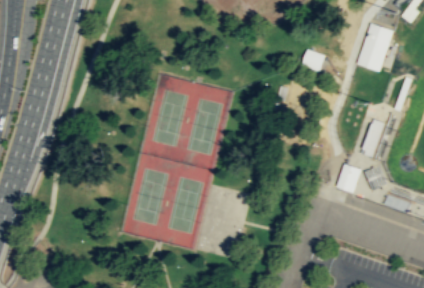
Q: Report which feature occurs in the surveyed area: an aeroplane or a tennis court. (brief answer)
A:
tennis court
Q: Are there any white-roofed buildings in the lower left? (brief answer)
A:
No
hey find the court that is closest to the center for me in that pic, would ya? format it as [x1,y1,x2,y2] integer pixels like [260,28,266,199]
[188,98,224,155]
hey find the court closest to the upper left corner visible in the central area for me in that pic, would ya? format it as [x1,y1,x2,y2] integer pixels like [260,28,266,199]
[154,90,189,147]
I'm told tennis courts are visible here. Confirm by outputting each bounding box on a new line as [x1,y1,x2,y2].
[133,169,169,226]
[154,90,189,147]
[188,98,224,155]
[168,178,204,234]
